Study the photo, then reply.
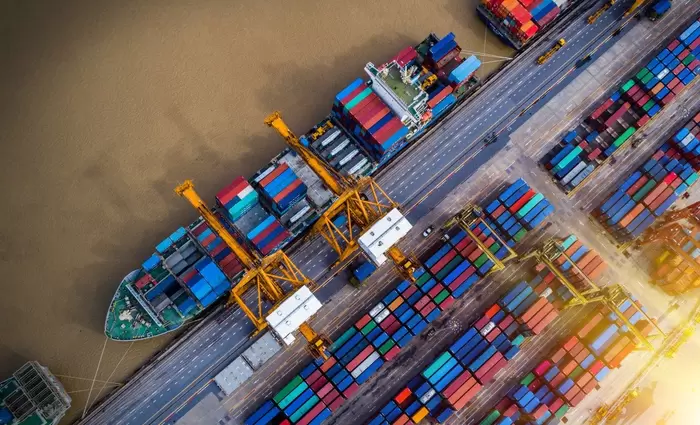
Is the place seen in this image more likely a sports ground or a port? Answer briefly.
port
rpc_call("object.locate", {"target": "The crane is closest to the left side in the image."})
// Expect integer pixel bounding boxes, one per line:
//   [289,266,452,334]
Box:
[177,182,336,361]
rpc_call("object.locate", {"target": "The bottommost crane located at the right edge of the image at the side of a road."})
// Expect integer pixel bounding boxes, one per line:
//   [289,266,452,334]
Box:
[581,279,669,357]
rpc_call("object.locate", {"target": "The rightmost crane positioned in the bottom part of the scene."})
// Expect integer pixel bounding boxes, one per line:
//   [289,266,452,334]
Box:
[632,218,700,301]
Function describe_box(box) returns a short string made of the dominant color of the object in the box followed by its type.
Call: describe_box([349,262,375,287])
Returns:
blue truck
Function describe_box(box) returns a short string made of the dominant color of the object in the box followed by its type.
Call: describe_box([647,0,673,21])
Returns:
blue truck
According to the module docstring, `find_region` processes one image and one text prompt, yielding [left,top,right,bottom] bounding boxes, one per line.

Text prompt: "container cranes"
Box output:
[262,116,420,287]
[632,218,700,301]
[441,201,517,279]
[517,233,602,314]
[177,182,336,361]
[581,279,669,357]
